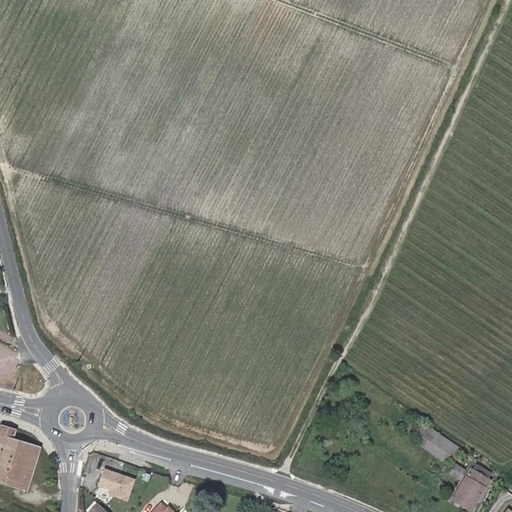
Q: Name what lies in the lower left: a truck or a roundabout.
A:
roundabout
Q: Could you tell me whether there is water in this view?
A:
No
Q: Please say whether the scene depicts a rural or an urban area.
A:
rural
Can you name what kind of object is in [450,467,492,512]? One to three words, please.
house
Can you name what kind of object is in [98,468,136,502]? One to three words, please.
house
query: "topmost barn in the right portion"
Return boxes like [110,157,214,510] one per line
[419,426,460,462]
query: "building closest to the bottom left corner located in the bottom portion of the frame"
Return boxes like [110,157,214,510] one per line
[0,426,42,491]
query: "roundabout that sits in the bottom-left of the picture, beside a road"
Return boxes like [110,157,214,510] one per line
[36,362,108,455]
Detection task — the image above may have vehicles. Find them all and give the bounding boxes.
[174,470,180,482]
[1,408,12,413]
[68,451,74,462]
[89,412,95,423]
[144,503,152,512]
[51,428,62,436]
